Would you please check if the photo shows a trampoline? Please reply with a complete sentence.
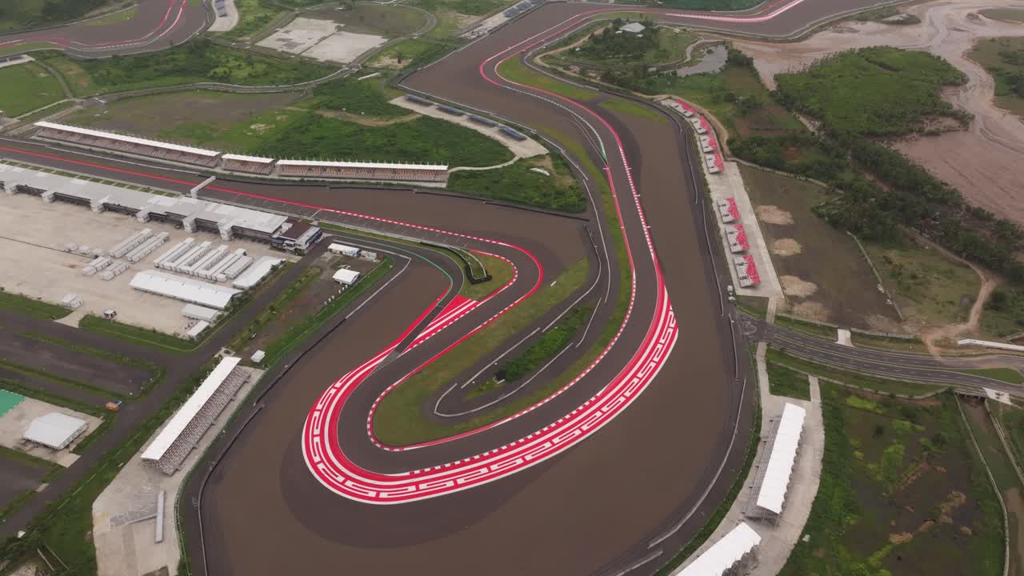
No, no trampoline can be seen from above.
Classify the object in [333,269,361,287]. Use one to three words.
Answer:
tent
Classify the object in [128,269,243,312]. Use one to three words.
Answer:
tent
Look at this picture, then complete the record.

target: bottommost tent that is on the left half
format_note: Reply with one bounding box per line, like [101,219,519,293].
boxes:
[24,413,87,454]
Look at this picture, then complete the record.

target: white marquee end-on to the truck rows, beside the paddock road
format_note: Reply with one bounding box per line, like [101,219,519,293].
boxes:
[233,254,286,293]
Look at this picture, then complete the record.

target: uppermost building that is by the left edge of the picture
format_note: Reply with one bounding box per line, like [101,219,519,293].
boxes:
[0,165,291,242]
